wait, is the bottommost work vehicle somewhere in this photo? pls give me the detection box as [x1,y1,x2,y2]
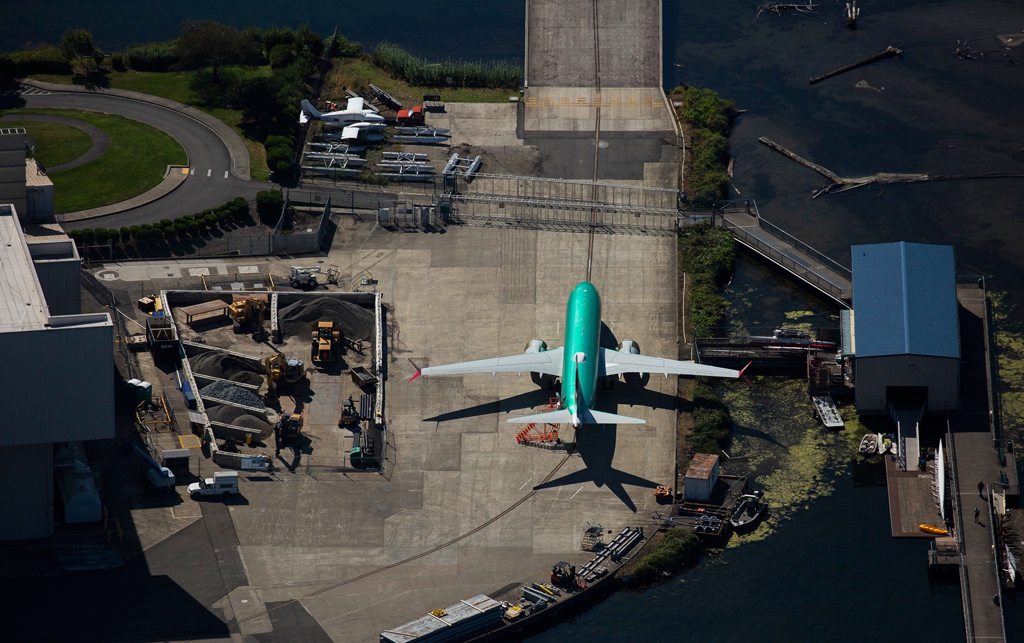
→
[544,558,580,591]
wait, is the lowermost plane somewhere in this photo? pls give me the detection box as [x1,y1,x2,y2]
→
[410,282,751,429]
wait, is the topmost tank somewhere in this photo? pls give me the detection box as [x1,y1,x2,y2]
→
[55,440,101,520]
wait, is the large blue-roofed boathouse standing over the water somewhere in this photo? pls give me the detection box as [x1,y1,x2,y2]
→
[838,240,963,428]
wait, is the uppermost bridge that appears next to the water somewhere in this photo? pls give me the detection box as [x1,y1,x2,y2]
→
[524,0,663,89]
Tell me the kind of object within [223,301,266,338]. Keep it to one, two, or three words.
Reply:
work vehicle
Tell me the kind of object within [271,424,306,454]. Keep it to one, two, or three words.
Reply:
work vehicle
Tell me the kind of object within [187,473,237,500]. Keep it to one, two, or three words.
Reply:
truck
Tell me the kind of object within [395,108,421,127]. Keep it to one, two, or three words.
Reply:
vehicle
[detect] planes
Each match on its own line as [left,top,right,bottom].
[300,102,389,144]
[410,282,751,429]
